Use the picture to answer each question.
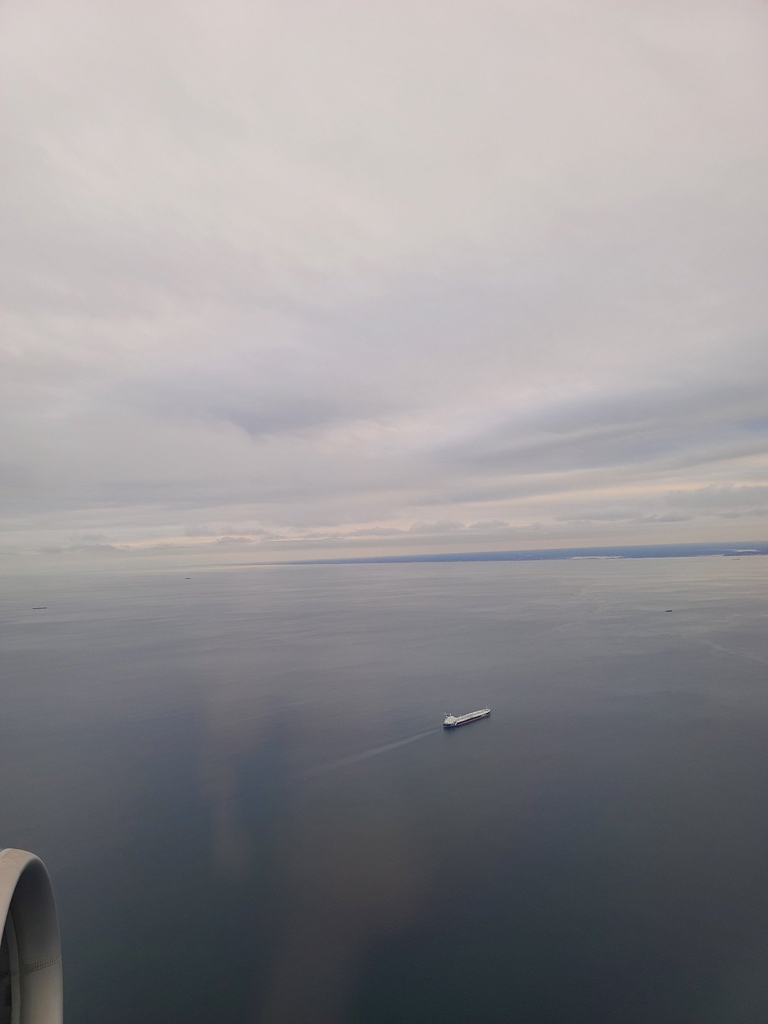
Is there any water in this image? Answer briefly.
Yes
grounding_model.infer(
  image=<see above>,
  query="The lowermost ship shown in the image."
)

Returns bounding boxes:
[442,706,492,726]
